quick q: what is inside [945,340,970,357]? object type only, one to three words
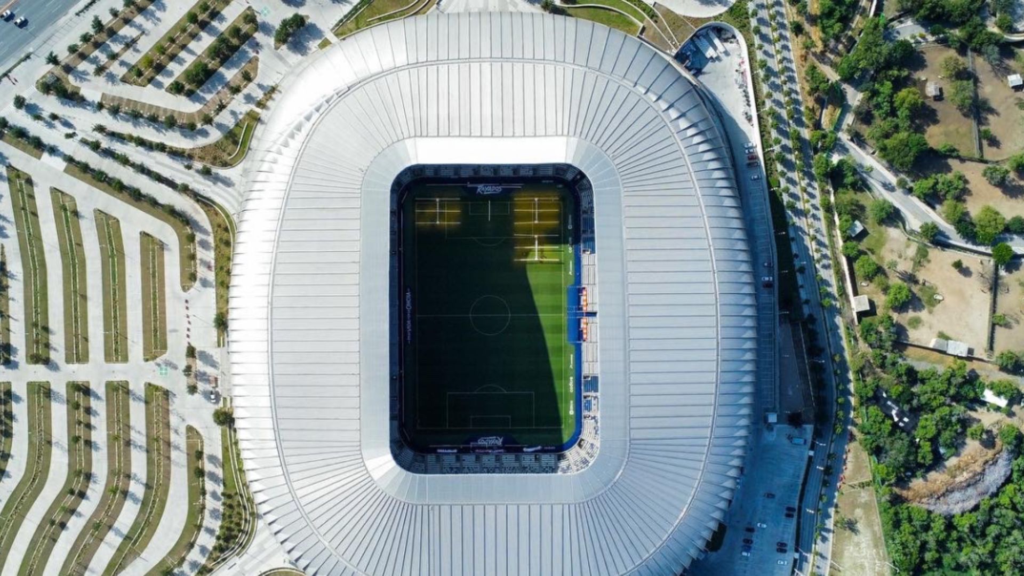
shed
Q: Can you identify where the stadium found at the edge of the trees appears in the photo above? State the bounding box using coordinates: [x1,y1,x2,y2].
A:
[227,13,758,576]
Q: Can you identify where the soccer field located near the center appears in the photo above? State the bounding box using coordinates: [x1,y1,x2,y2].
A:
[399,177,580,452]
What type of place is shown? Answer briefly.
sports ground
